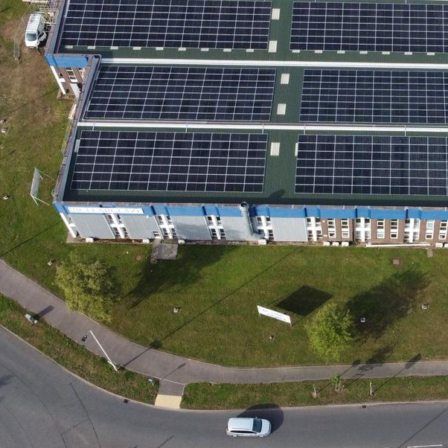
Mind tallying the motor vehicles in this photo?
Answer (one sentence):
There are 2 motor vehicles in the image.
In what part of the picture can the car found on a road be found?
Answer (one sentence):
The car found on a road sits in the bottom section of the image.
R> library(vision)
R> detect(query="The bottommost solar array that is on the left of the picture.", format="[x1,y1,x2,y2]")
[74,130,268,194]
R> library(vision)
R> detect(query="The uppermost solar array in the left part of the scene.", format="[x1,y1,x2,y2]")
[63,0,271,50]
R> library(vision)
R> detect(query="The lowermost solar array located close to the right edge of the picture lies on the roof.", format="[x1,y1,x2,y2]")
[293,135,448,197]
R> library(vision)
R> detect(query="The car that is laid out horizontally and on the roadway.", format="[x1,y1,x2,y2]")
[226,417,272,439]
